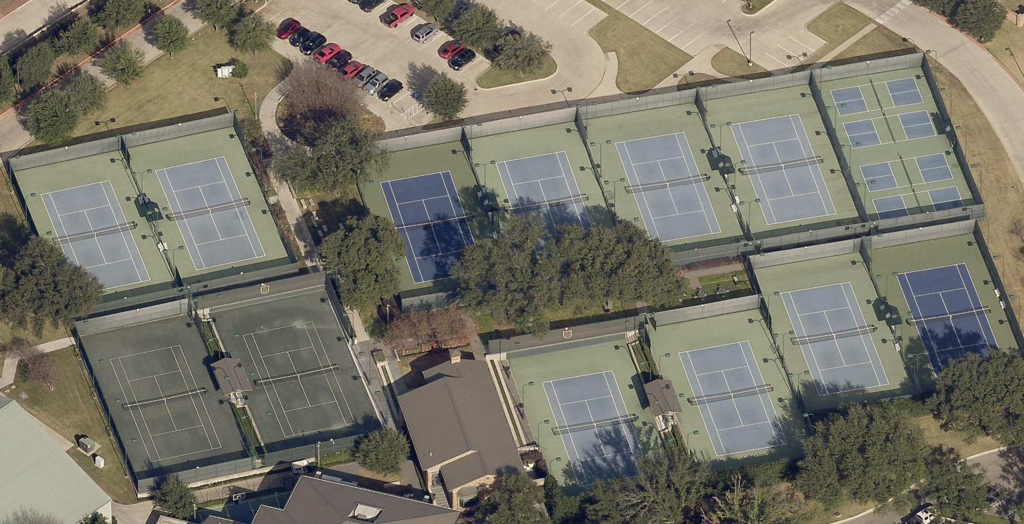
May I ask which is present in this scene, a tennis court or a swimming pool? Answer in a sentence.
The image shows a tennis court.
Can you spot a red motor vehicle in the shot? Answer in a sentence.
Yes, the frame does contain a red motor vehicle.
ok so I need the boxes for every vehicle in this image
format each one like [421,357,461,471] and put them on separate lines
[410,21,439,44]
[363,70,392,95]
[290,456,314,475]
[448,45,477,70]
[313,43,342,64]
[380,3,414,28]
[288,27,313,46]
[299,30,327,55]
[353,62,381,86]
[339,60,367,78]
[358,0,385,14]
[437,39,465,60]
[344,0,366,10]
[377,79,405,101]
[482,40,510,60]
[327,48,354,70]
[276,17,304,39]
[903,508,939,524]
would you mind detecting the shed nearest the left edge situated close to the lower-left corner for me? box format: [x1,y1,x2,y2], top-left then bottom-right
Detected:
[0,393,112,524]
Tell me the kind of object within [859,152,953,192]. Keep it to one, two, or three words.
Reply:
sports court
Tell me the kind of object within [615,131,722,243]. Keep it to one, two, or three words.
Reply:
tennis court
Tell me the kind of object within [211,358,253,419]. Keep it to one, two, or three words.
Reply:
shed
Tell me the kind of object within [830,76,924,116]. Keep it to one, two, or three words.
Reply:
sports court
